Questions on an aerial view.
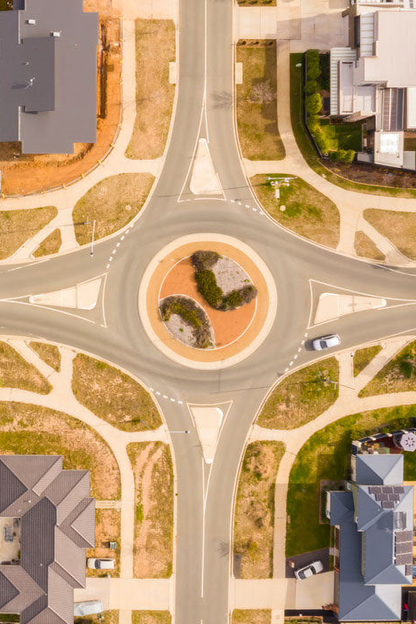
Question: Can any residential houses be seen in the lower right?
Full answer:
Yes, in the lower right there is a residential house.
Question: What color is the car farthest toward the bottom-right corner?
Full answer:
The color of the car farthest toward the bottom-right corner is white.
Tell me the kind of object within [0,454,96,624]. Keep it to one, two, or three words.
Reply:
house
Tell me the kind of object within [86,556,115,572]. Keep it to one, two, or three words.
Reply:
car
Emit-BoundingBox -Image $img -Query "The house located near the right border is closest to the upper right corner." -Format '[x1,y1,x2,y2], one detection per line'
[319,0,416,170]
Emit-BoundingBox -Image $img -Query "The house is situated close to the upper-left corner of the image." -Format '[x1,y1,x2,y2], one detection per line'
[0,0,97,157]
